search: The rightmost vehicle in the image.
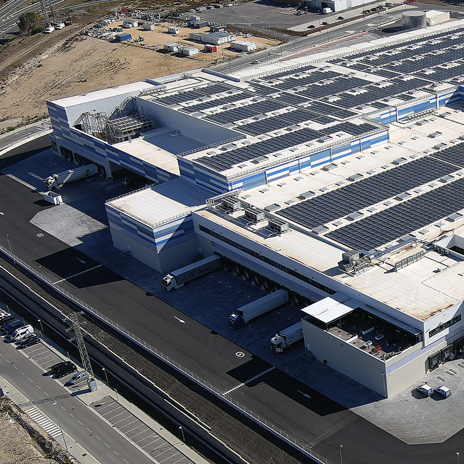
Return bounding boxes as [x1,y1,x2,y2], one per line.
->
[435,386,454,399]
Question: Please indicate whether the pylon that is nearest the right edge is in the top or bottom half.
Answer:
bottom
